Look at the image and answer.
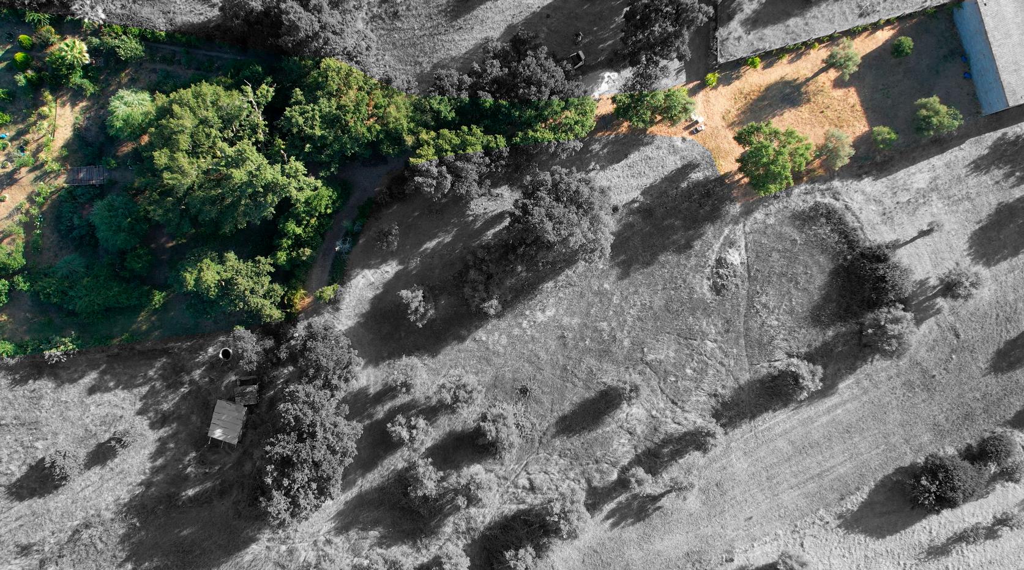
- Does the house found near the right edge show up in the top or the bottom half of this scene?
top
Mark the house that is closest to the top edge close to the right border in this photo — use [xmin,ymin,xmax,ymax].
[955,0,1024,115]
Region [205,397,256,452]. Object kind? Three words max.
shed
